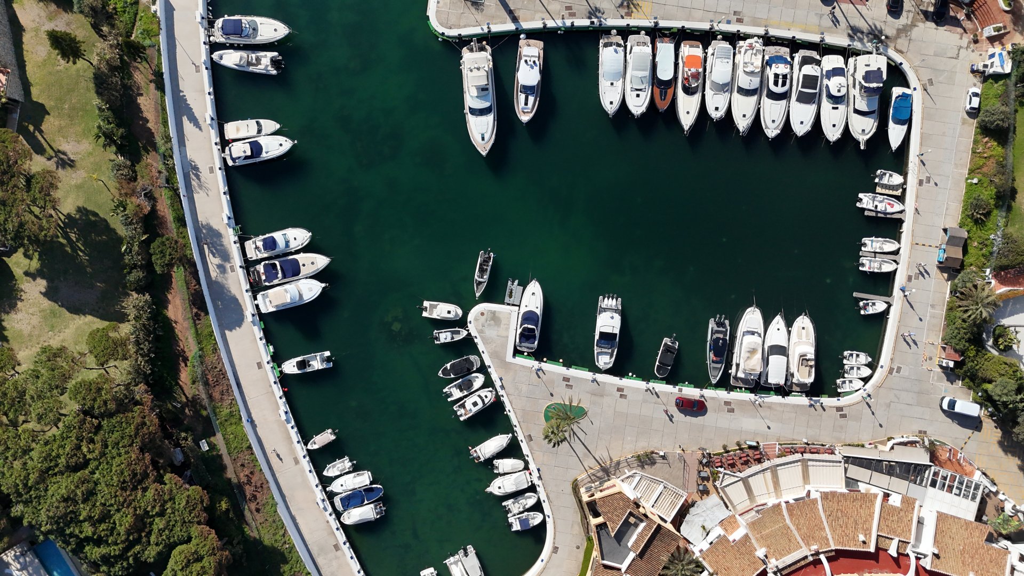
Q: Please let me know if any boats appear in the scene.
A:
Yes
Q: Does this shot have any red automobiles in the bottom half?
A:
Yes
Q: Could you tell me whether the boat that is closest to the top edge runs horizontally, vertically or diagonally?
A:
horizontally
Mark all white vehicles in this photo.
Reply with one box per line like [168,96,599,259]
[963,87,984,114]
[939,397,988,419]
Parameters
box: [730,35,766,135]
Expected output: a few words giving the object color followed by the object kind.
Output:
white boat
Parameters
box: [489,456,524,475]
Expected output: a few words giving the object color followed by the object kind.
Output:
white boat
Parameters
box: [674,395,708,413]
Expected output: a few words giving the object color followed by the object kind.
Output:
red car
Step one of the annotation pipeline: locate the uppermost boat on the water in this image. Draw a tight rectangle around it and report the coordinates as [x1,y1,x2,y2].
[207,16,293,47]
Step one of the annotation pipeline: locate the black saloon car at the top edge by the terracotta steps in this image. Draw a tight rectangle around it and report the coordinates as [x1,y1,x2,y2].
[931,0,952,25]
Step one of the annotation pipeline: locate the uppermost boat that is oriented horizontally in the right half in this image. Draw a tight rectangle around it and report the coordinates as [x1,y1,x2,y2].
[872,169,904,185]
